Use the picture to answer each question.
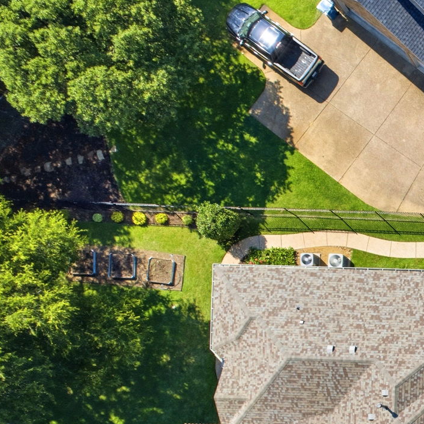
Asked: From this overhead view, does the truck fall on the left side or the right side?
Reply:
right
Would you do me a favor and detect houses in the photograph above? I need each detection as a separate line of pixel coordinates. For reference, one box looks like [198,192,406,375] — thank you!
[208,262,424,424]
[338,0,424,73]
